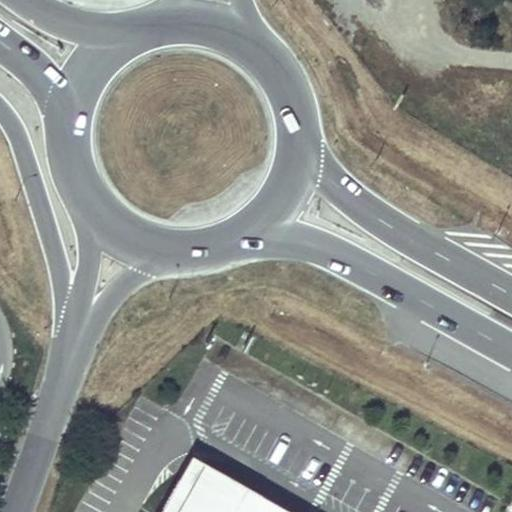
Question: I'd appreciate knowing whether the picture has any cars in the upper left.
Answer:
Yes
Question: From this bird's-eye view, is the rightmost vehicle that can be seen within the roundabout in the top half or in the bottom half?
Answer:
top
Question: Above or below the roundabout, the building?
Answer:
below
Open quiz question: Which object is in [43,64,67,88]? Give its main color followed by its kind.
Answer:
white vehicle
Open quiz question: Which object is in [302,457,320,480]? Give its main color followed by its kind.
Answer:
white car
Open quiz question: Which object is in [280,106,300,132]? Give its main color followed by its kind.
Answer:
white vehicle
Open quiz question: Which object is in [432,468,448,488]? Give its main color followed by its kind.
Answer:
white car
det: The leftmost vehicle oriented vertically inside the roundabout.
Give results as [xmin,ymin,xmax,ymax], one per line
[74,113,86,134]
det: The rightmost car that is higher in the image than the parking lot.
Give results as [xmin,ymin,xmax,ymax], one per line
[436,316,457,331]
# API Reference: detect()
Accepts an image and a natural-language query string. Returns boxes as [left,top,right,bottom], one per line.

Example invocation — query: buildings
[160,456,291,512]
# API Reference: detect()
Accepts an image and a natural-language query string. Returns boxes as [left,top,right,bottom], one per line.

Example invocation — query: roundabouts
[47,0,321,274]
